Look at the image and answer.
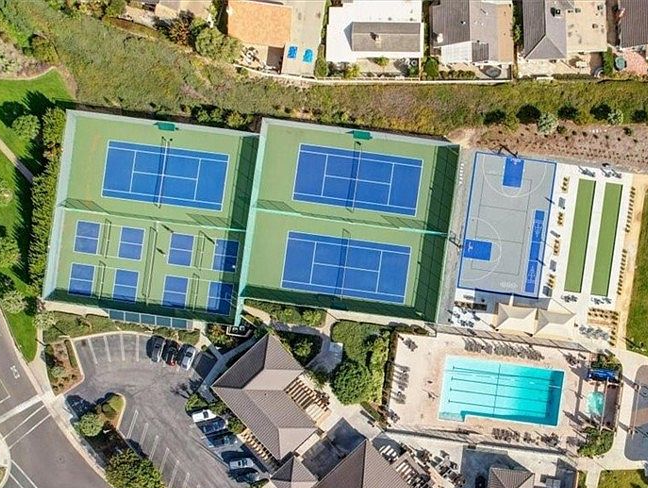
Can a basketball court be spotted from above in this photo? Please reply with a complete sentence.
Yes, there is a basketball court in the image.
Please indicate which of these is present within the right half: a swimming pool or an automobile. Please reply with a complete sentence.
There is a swimming pool within the right half.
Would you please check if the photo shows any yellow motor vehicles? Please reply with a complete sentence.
No, no yellow motor vehicle can be seen from above.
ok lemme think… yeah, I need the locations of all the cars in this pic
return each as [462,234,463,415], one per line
[150,339,167,365]
[165,341,180,367]
[191,409,218,422]
[210,434,237,446]
[199,420,227,433]
[180,345,198,370]
[230,457,256,469]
